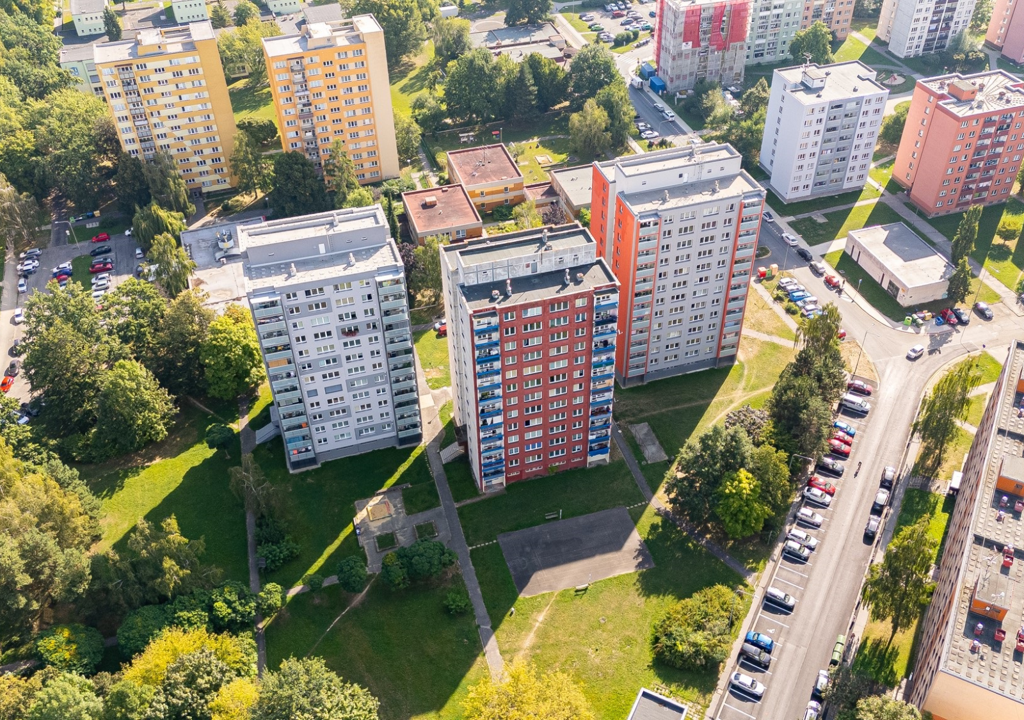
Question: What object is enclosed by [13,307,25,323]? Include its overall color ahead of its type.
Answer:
white vehicle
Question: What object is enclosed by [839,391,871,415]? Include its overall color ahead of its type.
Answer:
white vehicle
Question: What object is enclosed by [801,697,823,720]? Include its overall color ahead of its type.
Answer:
white car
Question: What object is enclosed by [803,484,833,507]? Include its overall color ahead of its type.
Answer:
white car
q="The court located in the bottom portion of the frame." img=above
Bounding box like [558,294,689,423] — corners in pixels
[497,506,655,597]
